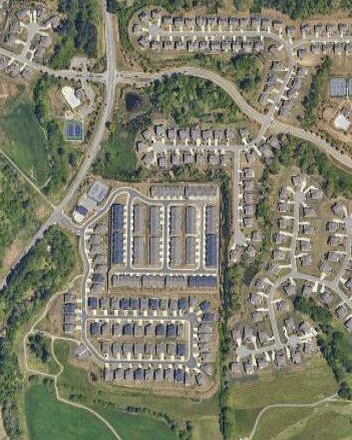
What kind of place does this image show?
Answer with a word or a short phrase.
residential area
